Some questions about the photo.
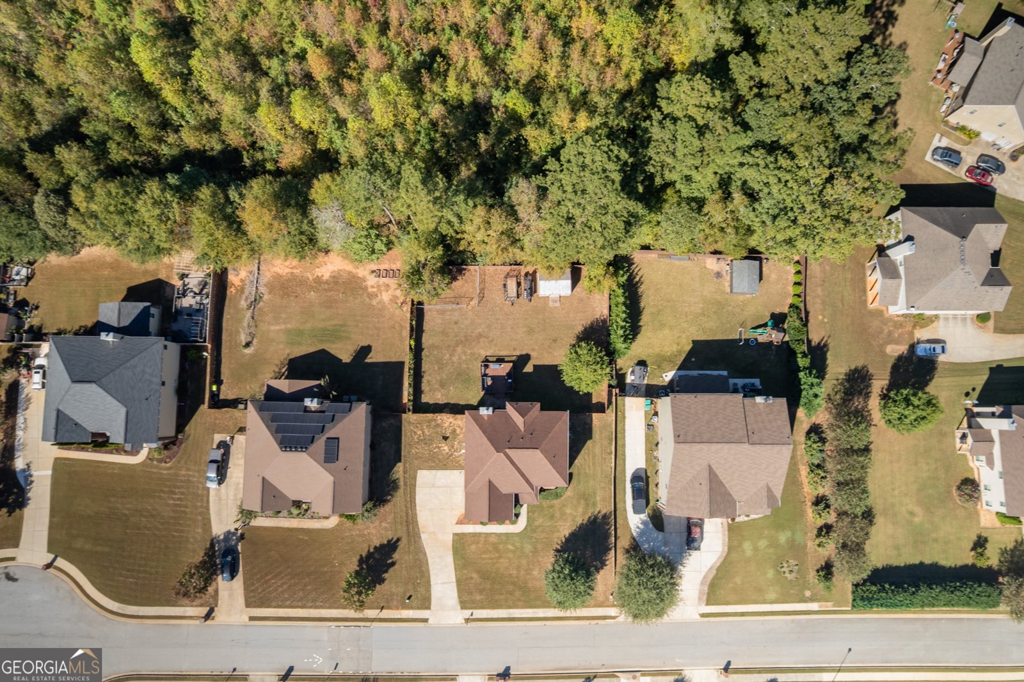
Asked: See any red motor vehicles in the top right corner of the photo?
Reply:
Yes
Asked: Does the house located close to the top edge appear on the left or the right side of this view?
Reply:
right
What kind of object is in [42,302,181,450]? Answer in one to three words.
house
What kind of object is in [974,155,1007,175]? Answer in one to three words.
car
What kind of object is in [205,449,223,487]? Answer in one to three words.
vehicle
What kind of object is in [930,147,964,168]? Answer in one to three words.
car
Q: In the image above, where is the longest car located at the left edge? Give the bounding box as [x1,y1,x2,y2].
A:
[31,356,48,388]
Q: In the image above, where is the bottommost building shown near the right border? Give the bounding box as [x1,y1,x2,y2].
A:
[953,405,1024,517]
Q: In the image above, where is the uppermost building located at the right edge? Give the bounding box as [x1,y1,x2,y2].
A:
[943,13,1024,132]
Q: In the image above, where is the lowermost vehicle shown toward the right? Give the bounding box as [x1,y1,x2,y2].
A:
[687,516,703,551]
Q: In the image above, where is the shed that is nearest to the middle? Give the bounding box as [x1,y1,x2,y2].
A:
[539,267,571,306]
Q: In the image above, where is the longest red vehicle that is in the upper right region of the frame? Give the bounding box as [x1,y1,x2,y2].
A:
[963,167,994,186]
